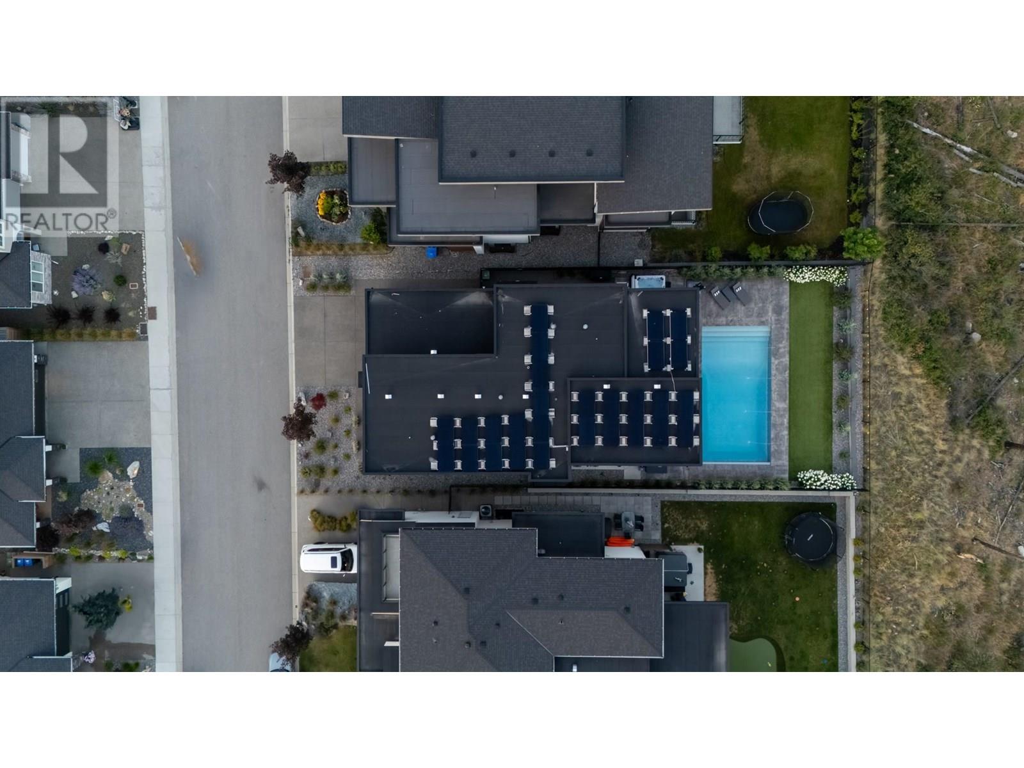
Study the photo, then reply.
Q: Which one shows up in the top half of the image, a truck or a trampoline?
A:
trampoline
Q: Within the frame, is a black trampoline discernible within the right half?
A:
Yes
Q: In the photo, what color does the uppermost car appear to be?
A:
white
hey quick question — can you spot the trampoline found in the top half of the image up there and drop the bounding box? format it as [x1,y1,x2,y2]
[746,187,818,239]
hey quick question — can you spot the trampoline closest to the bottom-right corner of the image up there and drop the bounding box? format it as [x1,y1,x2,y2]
[781,509,851,573]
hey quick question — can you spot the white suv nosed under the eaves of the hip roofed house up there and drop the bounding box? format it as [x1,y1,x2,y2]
[299,544,358,580]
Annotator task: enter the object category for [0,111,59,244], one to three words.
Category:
house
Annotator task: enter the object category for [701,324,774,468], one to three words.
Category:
swimming pool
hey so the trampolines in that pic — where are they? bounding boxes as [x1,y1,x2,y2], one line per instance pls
[781,509,851,573]
[746,187,818,239]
